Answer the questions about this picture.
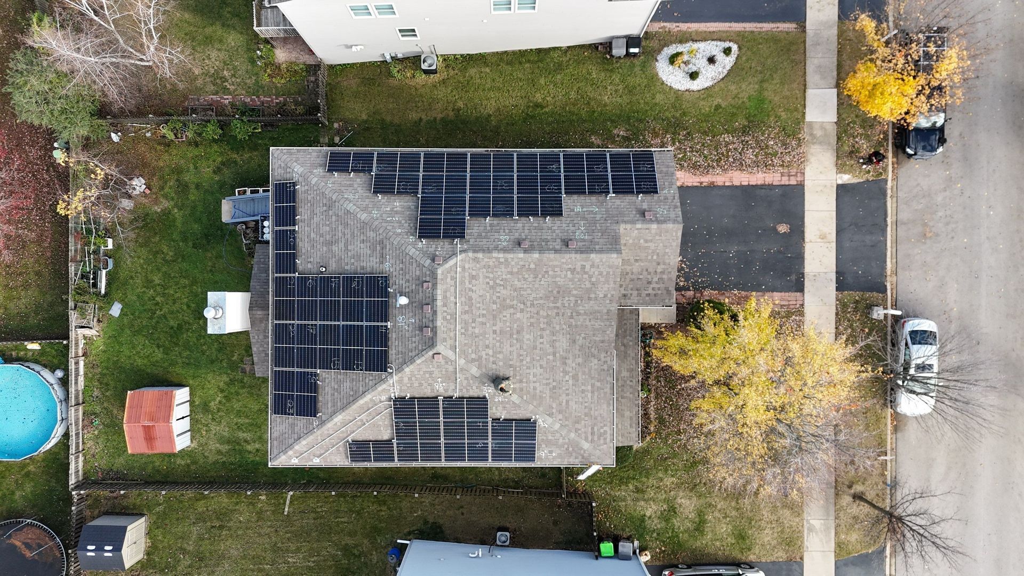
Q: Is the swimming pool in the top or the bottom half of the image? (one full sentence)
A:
The swimming pool is in the bottom half of the image.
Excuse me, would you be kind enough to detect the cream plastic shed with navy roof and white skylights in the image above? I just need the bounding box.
[77,516,146,572]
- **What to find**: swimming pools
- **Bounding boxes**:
[0,353,81,461]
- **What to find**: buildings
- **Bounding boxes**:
[77,516,146,572]
[207,144,684,470]
[394,539,651,576]
[261,0,662,65]
[123,388,190,454]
